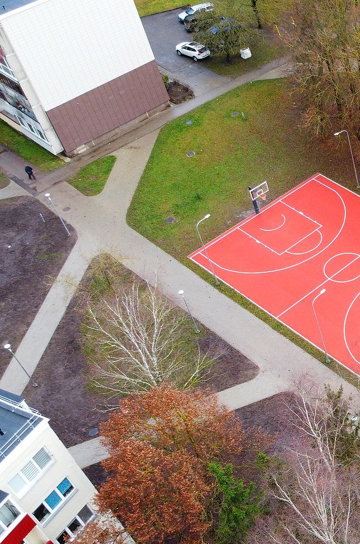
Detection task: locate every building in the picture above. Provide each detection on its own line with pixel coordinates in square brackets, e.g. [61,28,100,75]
[0,389,136,544]
[0,0,174,160]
